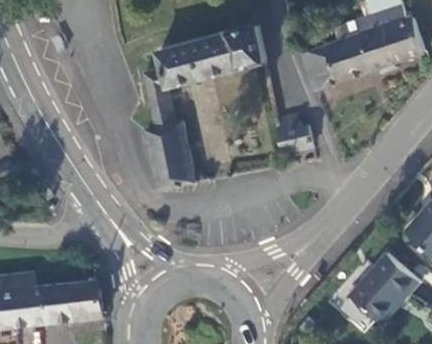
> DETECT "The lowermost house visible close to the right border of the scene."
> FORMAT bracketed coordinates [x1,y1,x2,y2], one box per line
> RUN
[329,252,420,332]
